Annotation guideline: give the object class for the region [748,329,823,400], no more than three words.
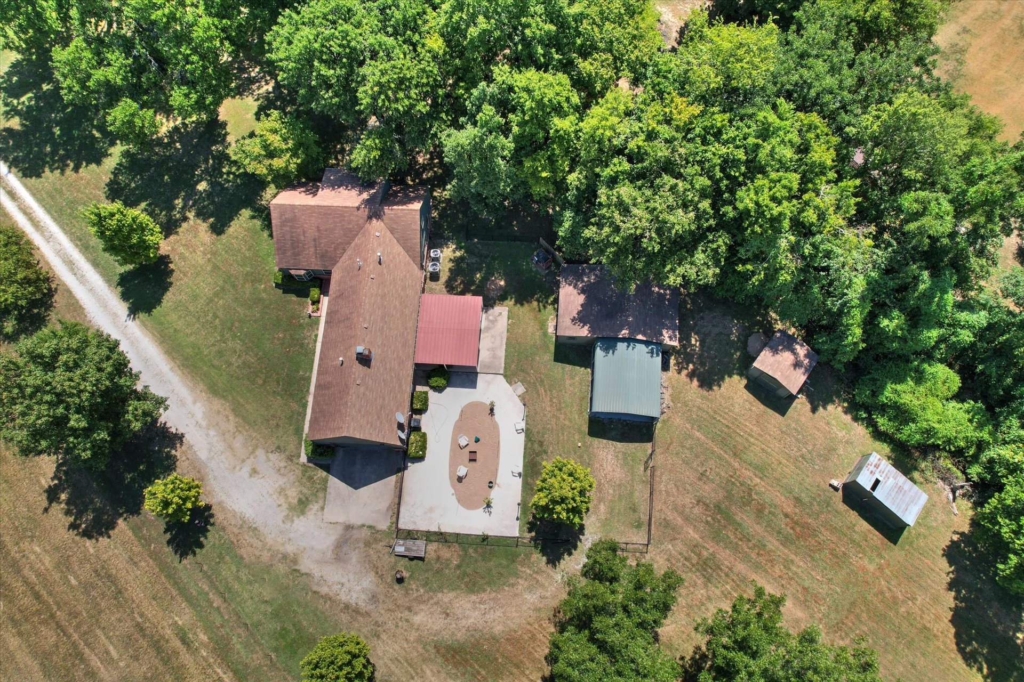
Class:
shed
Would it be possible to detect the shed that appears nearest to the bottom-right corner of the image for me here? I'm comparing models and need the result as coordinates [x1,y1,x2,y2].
[843,453,935,528]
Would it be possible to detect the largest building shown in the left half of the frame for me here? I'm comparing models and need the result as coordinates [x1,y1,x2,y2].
[270,167,430,449]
